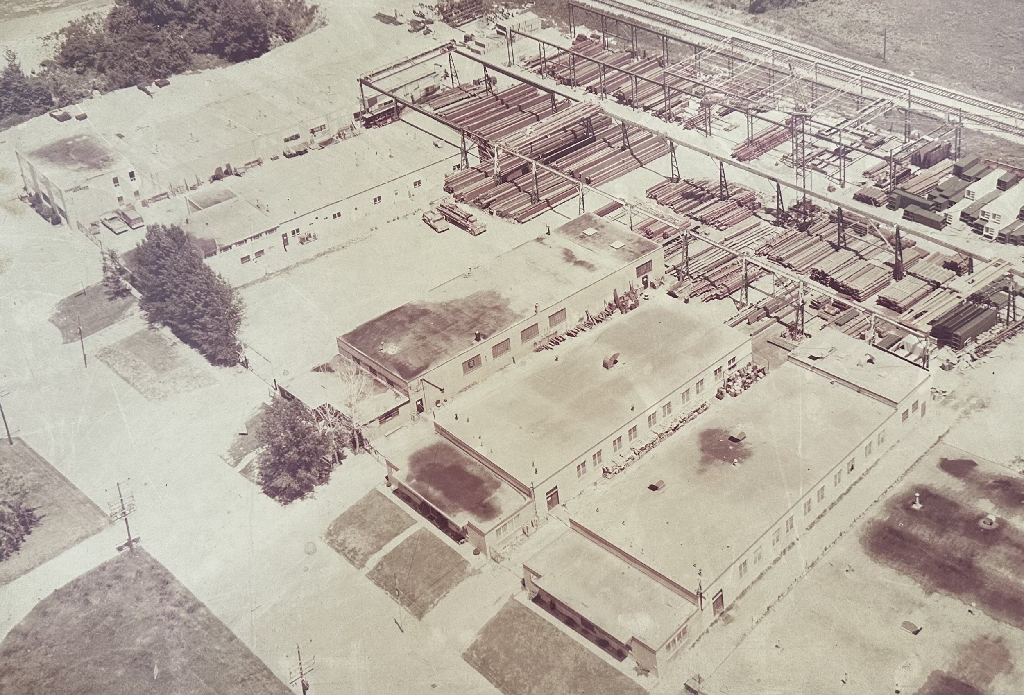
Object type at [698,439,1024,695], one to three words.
warehouse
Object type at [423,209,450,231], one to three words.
truck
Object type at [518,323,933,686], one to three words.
building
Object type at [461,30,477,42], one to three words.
vehicle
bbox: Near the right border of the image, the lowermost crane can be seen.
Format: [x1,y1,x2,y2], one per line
[897,255,1018,336]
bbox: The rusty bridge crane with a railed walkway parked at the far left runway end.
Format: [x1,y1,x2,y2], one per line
[359,41,464,88]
